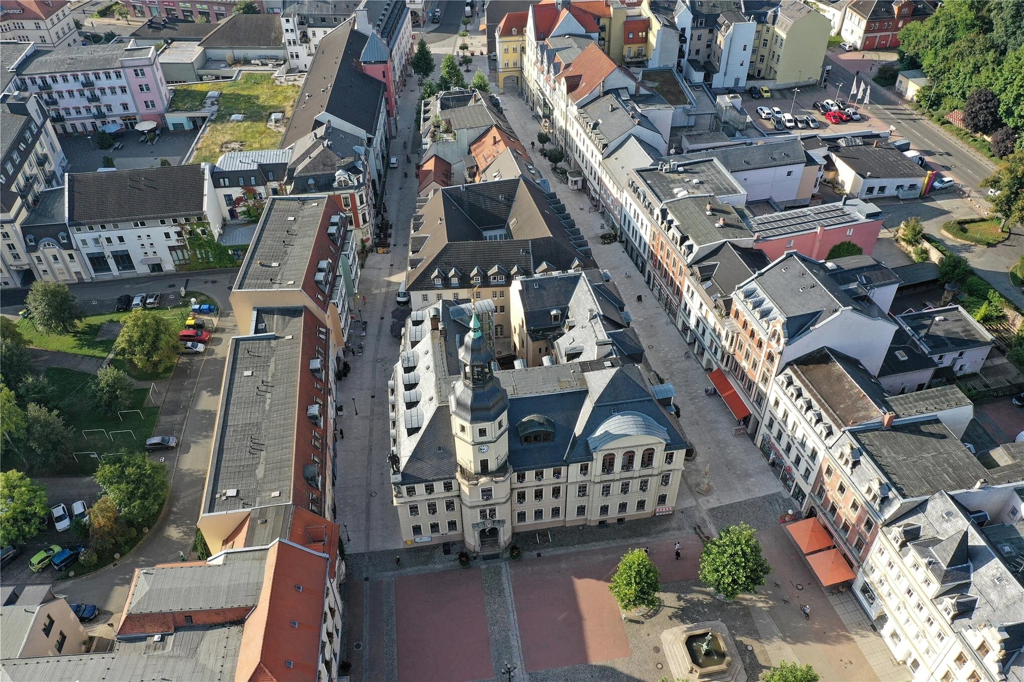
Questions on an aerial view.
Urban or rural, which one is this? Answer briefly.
urban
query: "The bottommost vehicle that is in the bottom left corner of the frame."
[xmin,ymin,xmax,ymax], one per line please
[65,597,103,619]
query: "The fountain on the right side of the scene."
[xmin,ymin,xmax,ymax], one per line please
[663,612,752,682]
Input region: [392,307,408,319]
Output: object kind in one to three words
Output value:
umbrella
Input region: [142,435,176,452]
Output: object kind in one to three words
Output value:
car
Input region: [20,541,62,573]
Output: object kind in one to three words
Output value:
car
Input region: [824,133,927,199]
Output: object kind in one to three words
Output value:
building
